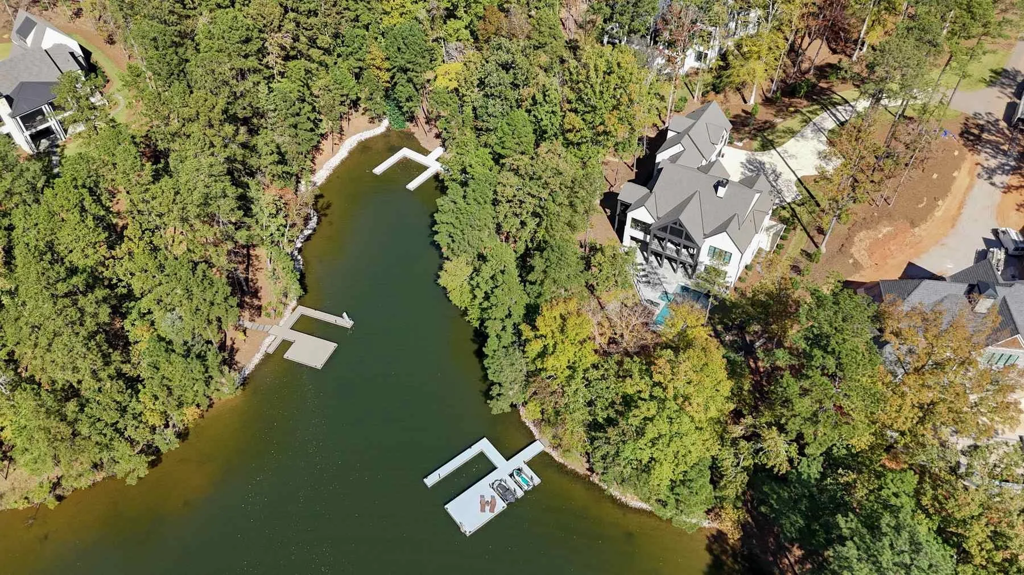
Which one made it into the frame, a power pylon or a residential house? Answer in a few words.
residential house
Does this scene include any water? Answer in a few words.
Yes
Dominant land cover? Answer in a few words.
trees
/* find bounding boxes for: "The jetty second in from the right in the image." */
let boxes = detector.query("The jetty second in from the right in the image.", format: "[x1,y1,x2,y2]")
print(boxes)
[371,146,443,192]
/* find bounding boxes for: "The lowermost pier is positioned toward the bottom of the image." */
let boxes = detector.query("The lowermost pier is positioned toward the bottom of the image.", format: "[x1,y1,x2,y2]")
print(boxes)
[422,437,543,537]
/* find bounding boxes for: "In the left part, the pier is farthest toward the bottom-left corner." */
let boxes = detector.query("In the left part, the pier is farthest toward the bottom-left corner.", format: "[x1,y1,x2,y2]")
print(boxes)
[265,305,355,371]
